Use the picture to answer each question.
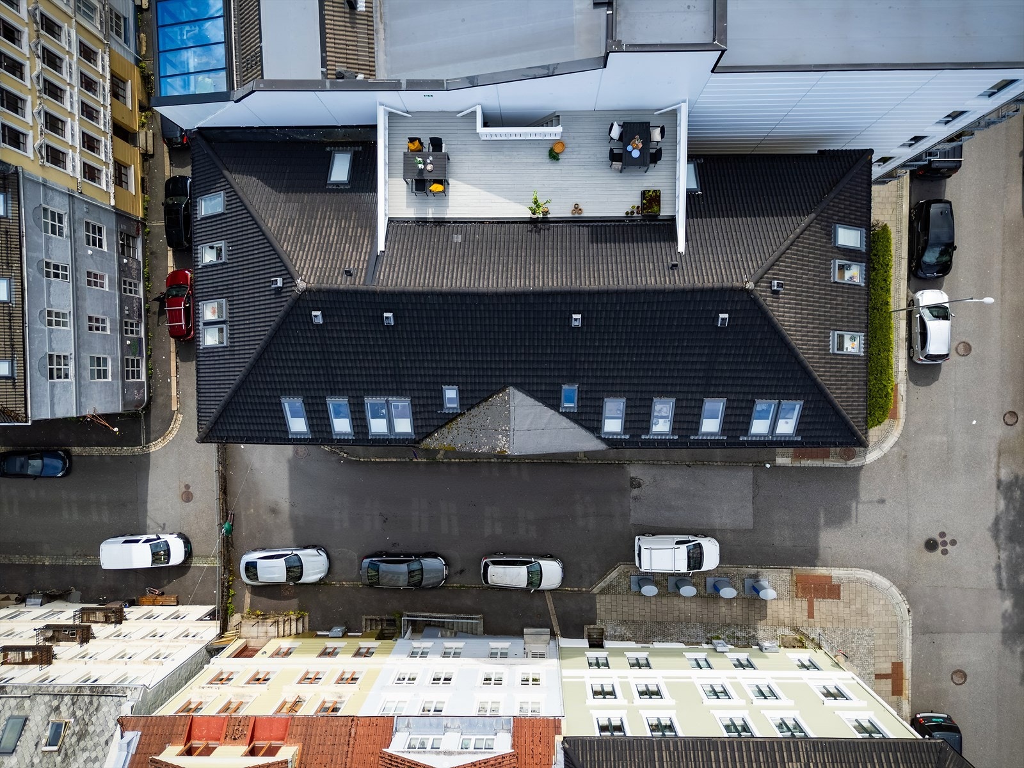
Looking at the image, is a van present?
Yes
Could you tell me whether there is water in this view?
No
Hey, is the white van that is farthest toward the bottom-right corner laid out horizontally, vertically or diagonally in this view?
horizontally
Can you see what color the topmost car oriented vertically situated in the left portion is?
black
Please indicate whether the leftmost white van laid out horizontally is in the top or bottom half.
bottom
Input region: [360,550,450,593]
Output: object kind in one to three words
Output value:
car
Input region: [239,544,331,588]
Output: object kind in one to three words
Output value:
car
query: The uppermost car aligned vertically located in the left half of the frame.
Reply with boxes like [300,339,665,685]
[156,172,192,253]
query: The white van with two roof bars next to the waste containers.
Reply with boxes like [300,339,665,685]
[634,533,722,578]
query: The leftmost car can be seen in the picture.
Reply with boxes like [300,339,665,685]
[0,445,74,485]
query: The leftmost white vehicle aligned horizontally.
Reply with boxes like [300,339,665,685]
[93,531,192,575]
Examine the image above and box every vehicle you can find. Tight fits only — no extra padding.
[634,533,722,578]
[908,196,959,283]
[912,132,973,194]
[93,531,192,575]
[156,108,191,156]
[360,550,450,593]
[913,708,960,768]
[481,552,566,595]
[156,172,192,253]
[0,445,74,485]
[146,266,193,343]
[907,288,955,366]
[239,544,331,588]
